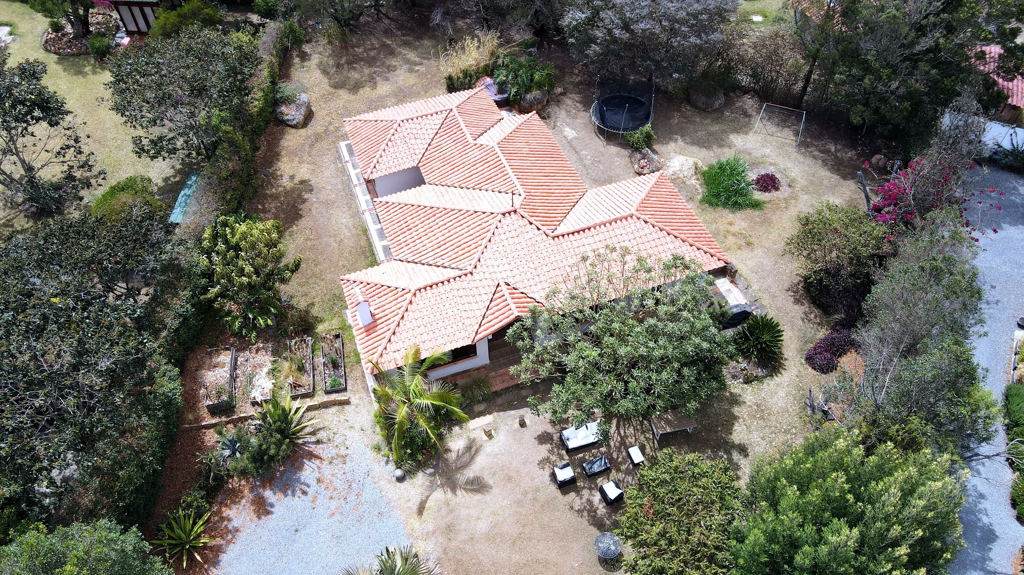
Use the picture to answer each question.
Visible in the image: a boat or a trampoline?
trampoline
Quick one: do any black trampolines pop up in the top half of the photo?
Yes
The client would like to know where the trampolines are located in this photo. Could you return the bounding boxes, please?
[590,69,656,144]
